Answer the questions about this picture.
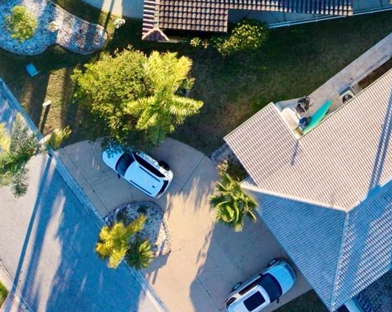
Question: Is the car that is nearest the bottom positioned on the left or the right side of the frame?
right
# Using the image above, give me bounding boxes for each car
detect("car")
[101,142,176,203]
[223,259,297,312]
